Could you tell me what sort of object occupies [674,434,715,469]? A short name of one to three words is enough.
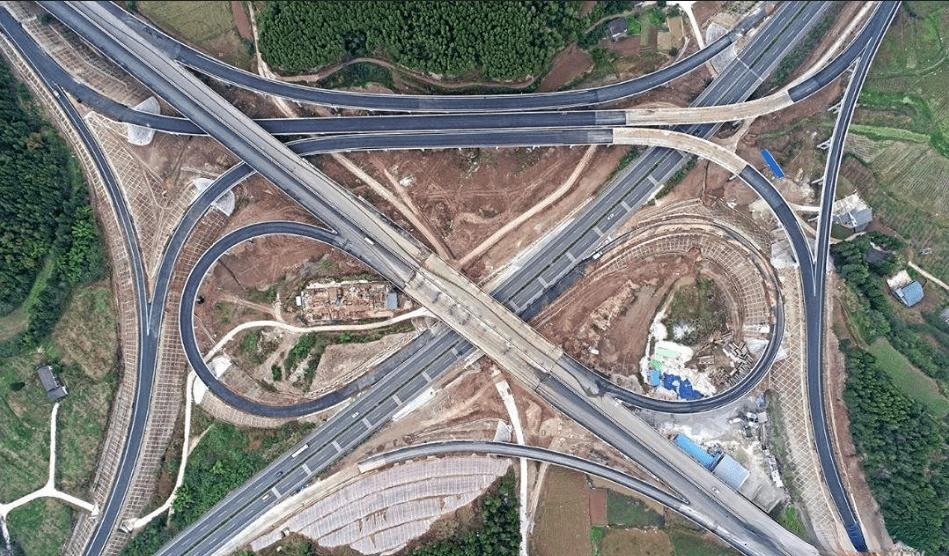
shed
